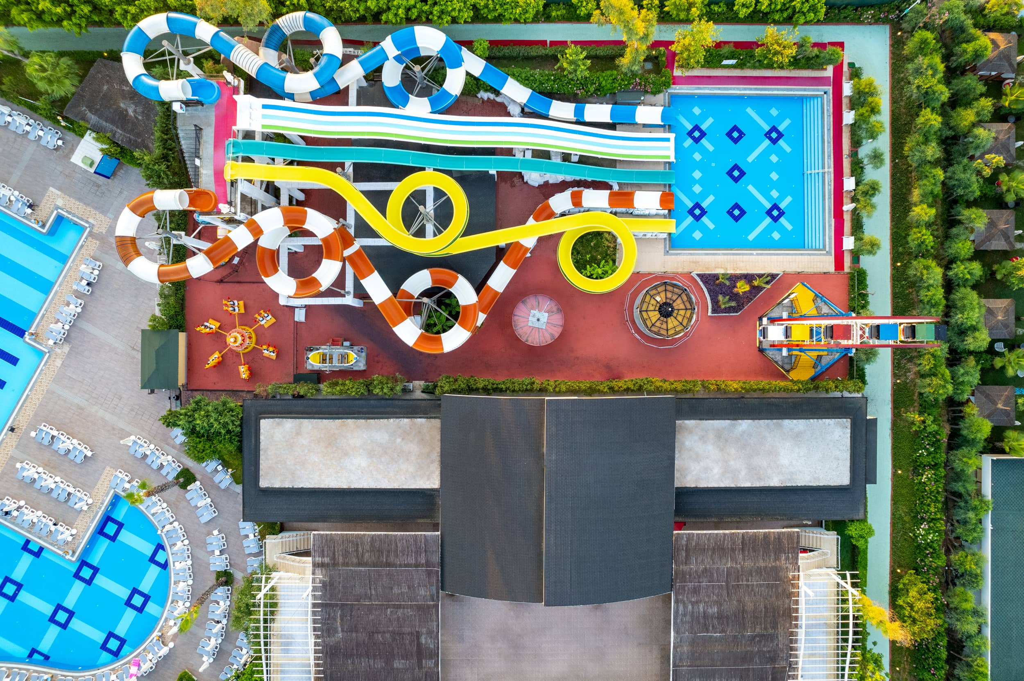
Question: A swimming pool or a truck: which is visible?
swimming pool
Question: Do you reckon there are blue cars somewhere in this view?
No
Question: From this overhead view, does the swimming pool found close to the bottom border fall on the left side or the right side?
left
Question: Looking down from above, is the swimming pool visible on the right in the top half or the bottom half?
top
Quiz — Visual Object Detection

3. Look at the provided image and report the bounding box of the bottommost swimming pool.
[0,493,171,671]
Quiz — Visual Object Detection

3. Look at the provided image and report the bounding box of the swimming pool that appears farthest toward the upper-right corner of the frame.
[671,94,823,249]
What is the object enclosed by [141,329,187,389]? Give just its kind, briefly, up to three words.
shed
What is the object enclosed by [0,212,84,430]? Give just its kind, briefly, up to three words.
swimming pool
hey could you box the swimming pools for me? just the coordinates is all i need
[0,493,171,671]
[0,212,84,430]
[671,94,823,249]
